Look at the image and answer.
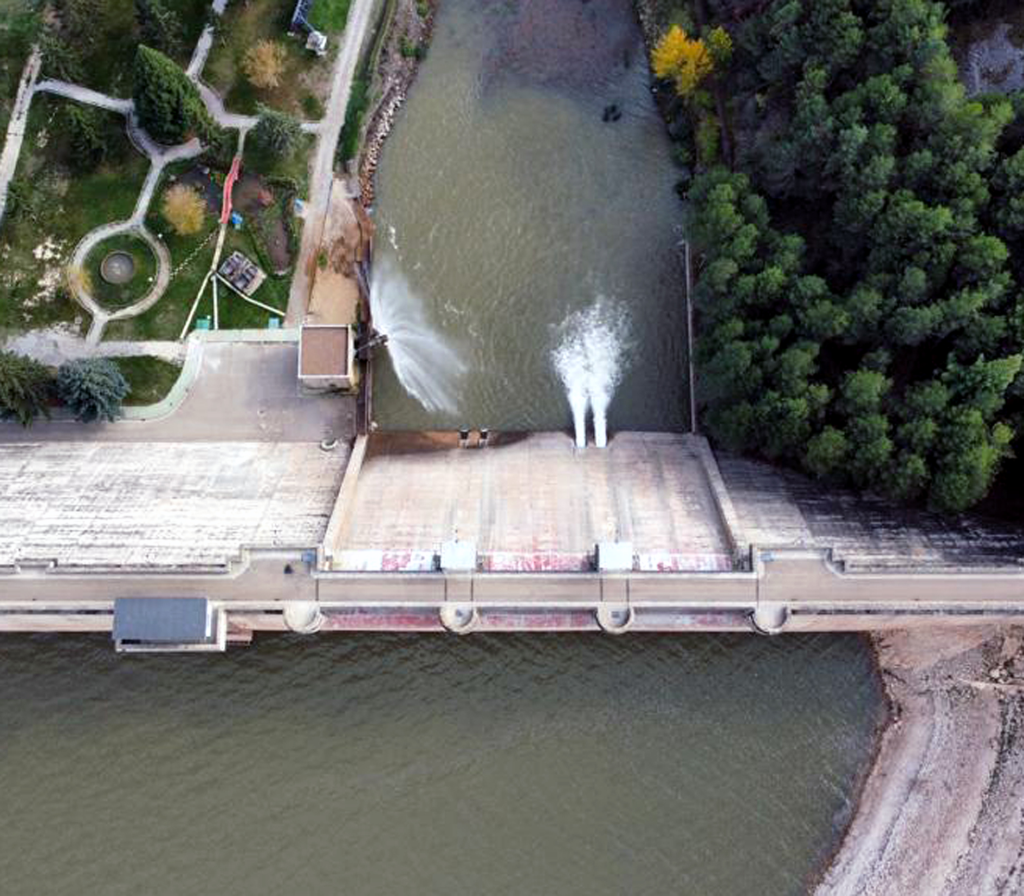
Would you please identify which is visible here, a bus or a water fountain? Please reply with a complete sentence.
Looking from above, you can make out a water fountain.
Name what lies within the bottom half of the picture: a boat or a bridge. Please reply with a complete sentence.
Looking within the bottom half of the picture, you will find a bridge.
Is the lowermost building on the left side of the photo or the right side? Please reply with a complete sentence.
You can find the lowermost building on the left side of the picture.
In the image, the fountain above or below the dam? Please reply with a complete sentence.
As seen from overhead, the fountain falls above the dam in the picture.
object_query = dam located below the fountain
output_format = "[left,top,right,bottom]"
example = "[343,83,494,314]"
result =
[0,432,1024,635]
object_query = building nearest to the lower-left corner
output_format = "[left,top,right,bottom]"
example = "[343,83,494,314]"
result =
[111,598,257,651]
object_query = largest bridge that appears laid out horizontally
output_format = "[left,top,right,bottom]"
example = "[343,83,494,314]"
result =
[314,567,761,607]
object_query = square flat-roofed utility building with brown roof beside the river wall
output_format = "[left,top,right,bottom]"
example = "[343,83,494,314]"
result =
[298,326,359,394]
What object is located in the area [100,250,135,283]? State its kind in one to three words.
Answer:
fountain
